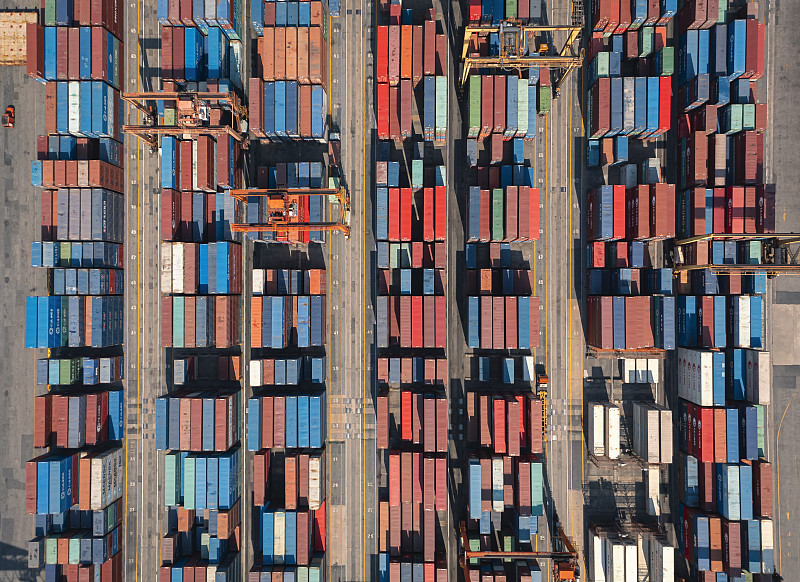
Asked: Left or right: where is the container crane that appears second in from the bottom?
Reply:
right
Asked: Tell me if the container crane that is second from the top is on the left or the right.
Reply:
left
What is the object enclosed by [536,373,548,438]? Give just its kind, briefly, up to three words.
vehicle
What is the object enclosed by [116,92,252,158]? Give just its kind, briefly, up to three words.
container crane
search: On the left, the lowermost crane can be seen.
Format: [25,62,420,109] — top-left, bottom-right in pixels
[228,187,357,242]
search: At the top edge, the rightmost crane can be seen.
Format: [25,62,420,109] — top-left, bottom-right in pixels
[454,20,580,94]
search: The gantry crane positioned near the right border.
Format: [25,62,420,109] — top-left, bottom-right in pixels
[666,230,800,278]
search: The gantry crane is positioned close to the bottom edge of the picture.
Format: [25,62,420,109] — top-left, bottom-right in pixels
[454,516,583,582]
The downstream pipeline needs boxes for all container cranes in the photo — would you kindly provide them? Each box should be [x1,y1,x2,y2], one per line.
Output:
[116,92,252,158]
[454,20,580,94]
[228,187,357,242]
[666,230,800,278]
[454,516,583,582]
